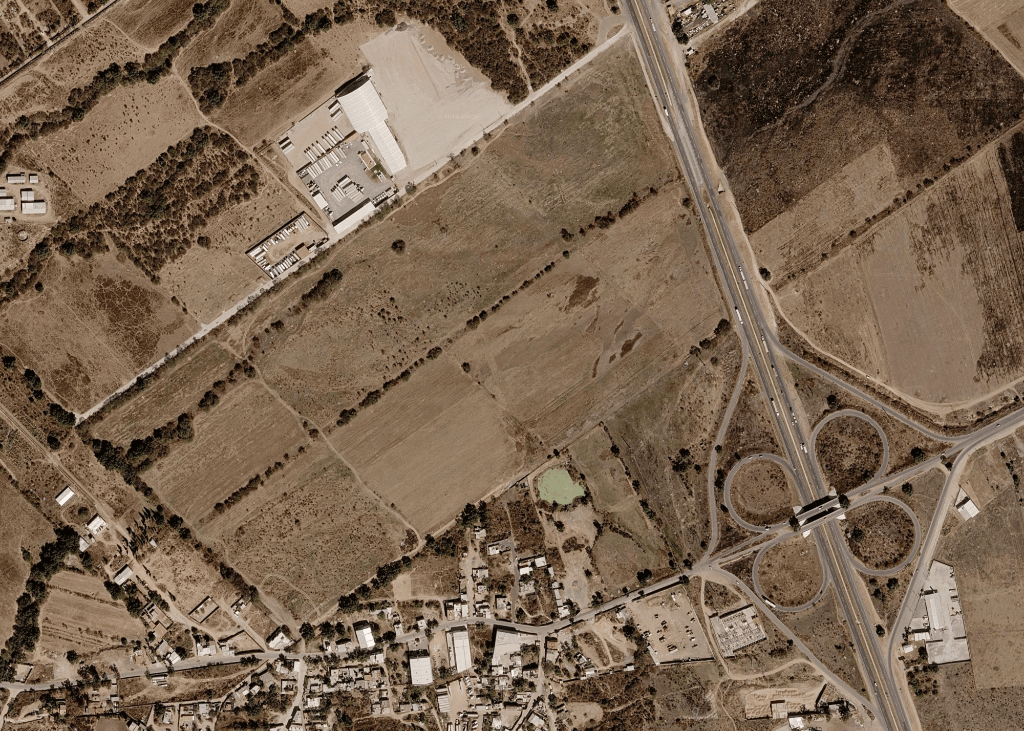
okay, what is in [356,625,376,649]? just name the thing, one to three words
building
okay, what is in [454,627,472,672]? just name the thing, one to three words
building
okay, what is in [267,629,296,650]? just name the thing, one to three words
house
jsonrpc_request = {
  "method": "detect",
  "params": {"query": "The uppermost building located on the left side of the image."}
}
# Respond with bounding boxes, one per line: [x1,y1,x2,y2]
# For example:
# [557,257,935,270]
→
[338,78,388,132]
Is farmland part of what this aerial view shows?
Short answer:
Yes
